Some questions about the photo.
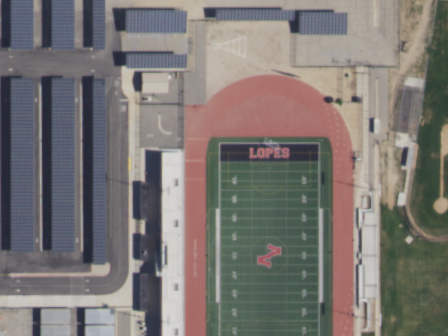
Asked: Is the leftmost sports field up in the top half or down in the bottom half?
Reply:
bottom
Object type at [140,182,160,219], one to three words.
building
